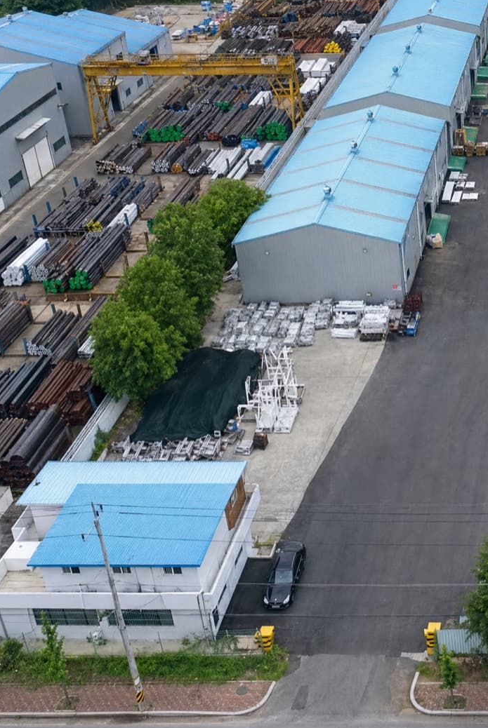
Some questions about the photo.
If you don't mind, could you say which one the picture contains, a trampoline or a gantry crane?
gantry crane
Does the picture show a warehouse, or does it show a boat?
warehouse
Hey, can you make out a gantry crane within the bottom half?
No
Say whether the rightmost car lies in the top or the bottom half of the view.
bottom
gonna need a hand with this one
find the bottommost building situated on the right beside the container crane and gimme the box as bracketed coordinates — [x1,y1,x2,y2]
[229,101,450,300]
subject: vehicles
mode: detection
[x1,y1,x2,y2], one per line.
[258,549,308,613]
[169,24,192,39]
